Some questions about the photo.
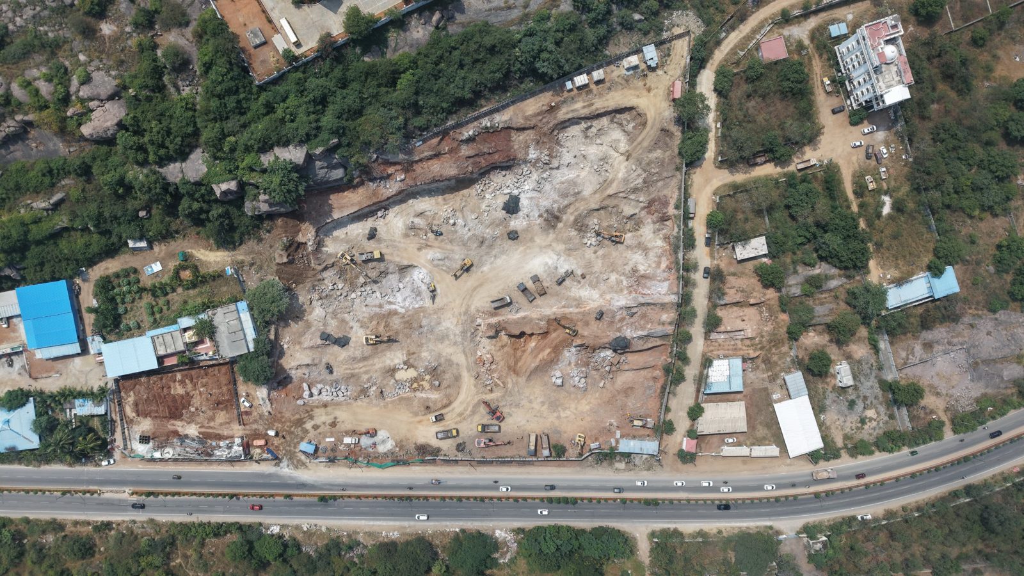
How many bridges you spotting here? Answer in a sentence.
There are no bridges in the image.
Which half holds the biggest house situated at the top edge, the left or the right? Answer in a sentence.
The biggest house situated at the top edge is on the right side of the image.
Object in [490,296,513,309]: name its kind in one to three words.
vehicle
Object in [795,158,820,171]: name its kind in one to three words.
vehicle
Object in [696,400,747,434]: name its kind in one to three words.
shed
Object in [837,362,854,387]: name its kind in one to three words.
building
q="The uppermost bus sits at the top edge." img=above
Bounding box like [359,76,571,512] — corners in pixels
[279,19,300,45]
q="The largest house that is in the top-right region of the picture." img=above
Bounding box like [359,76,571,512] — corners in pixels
[832,14,913,115]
